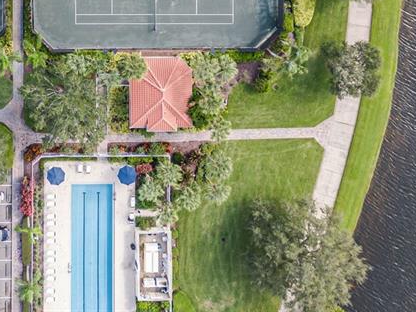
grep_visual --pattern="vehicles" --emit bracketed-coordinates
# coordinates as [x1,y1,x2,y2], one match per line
[0,226,10,244]
[0,189,6,203]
